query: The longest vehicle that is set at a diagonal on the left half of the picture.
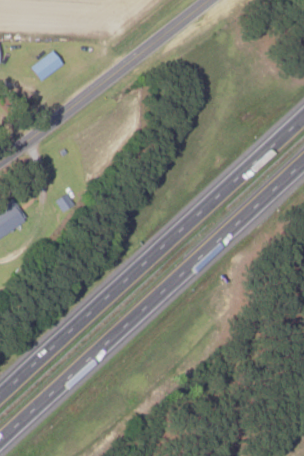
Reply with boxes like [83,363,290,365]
[66,348,107,387]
